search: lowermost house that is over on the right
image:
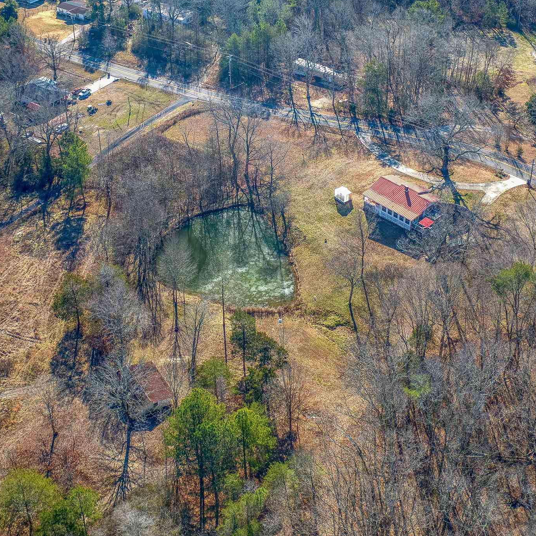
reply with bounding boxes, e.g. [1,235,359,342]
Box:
[365,177,451,243]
